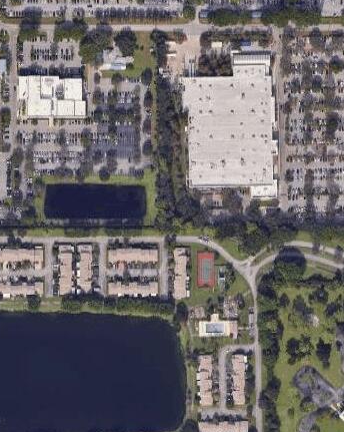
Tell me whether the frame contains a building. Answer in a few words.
Yes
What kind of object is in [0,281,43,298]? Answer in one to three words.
house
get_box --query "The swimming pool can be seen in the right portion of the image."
[199,321,231,337]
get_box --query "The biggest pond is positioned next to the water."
[43,184,148,220]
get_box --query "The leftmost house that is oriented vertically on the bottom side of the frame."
[60,245,74,295]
